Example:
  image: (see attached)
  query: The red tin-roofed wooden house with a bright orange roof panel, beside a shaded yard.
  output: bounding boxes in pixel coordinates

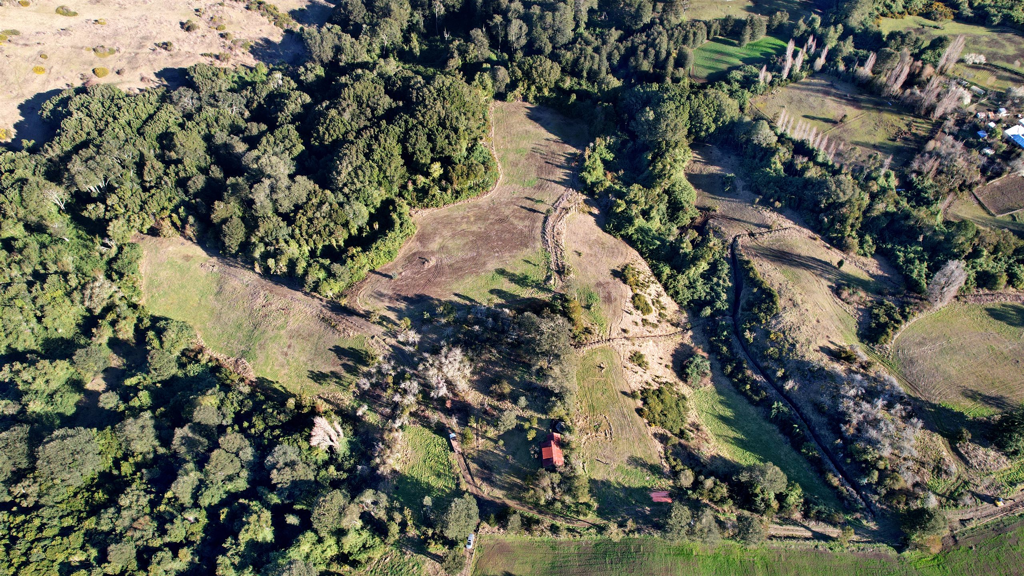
[543,431,563,467]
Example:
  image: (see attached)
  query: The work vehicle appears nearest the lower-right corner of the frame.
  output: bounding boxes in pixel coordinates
[992,495,1020,507]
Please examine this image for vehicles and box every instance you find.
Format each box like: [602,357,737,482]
[466,531,475,548]
[992,495,1020,507]
[449,430,460,453]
